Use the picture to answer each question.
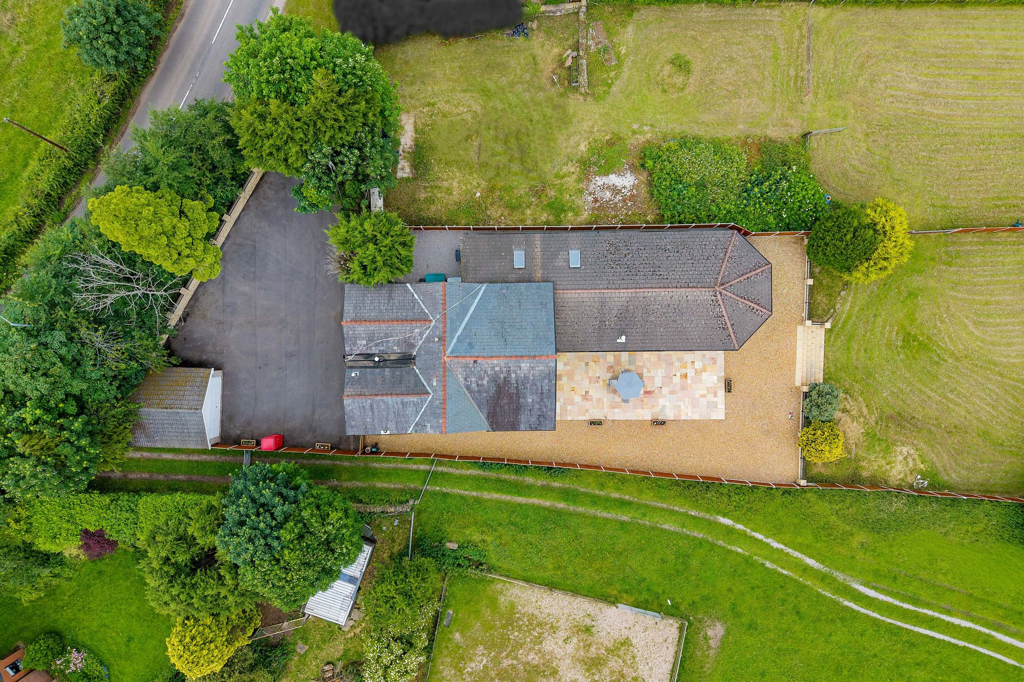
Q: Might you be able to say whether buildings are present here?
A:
Yes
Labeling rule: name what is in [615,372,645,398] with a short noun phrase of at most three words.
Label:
umbrella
